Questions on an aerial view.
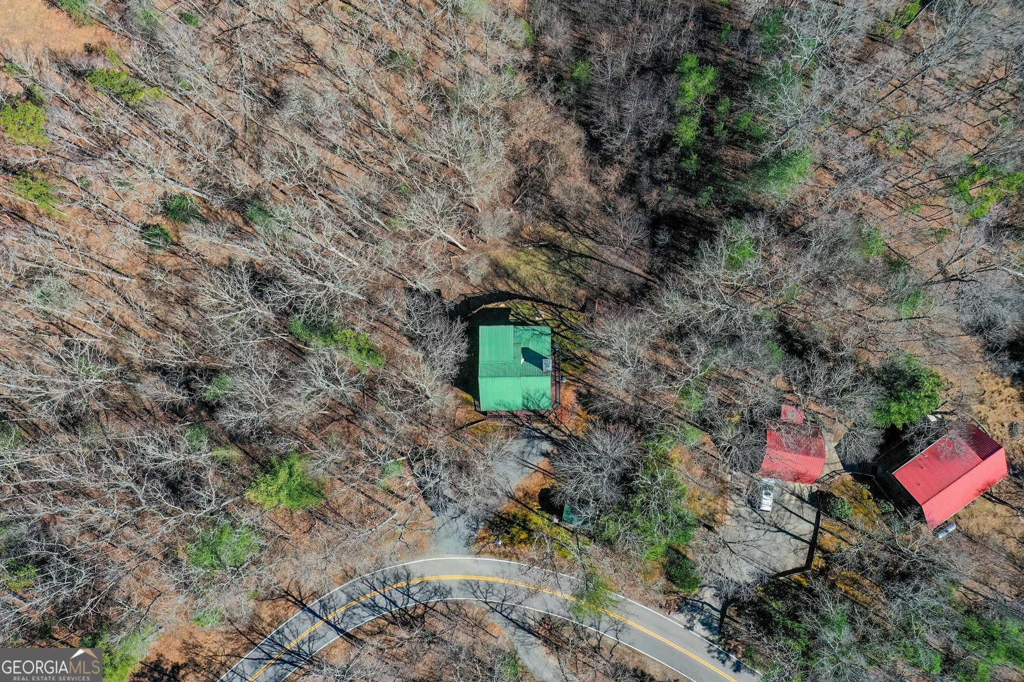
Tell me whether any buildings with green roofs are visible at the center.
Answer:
Yes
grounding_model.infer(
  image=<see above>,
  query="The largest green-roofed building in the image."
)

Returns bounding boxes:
[473,325,562,427]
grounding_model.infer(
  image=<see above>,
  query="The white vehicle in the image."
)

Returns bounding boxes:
[759,478,775,513]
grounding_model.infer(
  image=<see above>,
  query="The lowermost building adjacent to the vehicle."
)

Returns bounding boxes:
[755,420,826,485]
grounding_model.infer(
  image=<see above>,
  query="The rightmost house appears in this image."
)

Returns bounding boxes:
[871,417,1008,533]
